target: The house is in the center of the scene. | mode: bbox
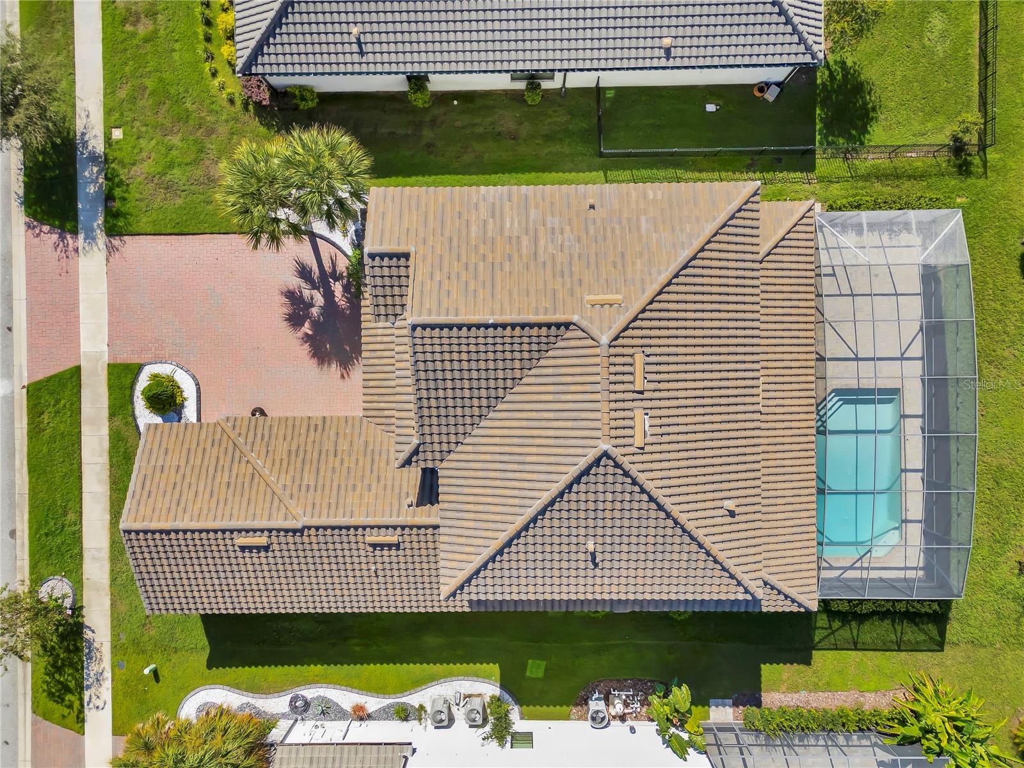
[119,177,822,618]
